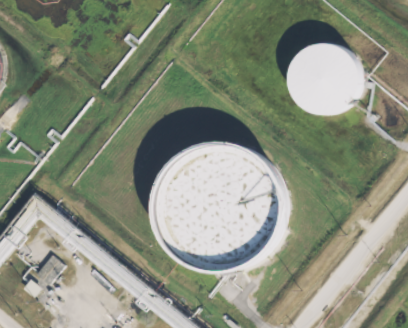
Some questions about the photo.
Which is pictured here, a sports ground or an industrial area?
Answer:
industrial area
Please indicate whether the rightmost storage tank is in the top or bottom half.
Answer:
top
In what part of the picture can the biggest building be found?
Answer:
bottom left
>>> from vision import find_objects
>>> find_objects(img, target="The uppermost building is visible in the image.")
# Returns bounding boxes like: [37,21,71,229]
[38,254,68,286]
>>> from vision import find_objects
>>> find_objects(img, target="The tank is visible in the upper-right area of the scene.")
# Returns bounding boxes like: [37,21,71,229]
[286,42,366,118]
